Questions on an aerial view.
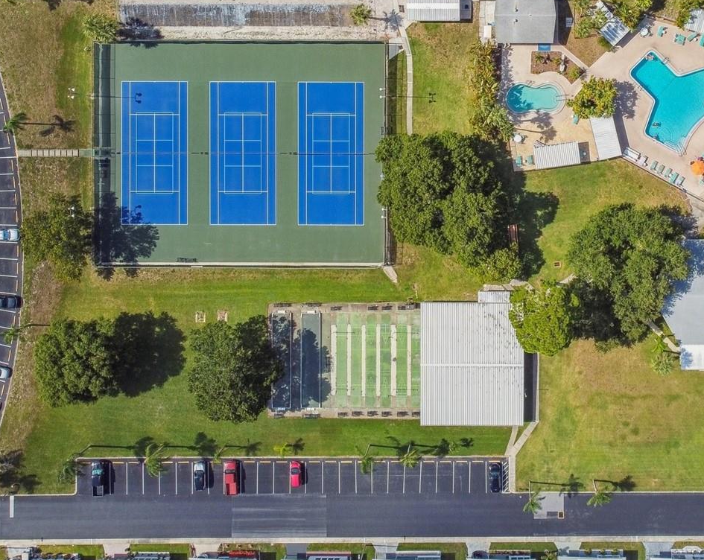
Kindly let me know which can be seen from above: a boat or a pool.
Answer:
pool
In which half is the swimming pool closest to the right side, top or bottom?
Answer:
top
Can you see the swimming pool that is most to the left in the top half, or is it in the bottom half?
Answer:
top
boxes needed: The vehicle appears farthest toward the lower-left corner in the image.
[90,460,107,497]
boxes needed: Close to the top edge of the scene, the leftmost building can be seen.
[407,0,460,21]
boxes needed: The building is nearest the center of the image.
[420,290,524,425]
